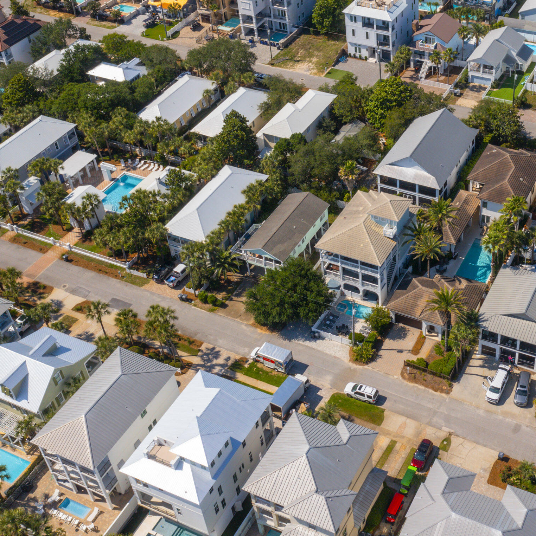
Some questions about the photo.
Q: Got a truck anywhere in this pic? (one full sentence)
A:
Yes, a truck is visible in the scene.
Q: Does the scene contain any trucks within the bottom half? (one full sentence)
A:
Yes, looking within the bottom half, one can make out a truck.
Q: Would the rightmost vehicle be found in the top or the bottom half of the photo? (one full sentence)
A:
Seen from above, the rightmost vehicle lies in the bottom half of the view.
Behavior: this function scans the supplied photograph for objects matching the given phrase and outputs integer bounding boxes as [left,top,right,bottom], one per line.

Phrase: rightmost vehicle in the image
[513,375,533,409]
